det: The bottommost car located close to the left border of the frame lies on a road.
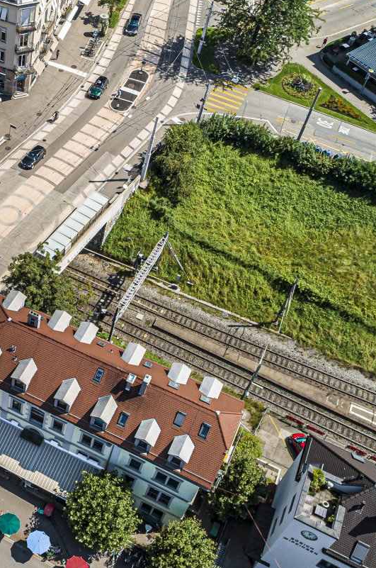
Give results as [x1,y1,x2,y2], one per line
[19,144,49,169]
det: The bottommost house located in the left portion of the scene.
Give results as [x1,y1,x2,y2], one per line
[0,292,242,518]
